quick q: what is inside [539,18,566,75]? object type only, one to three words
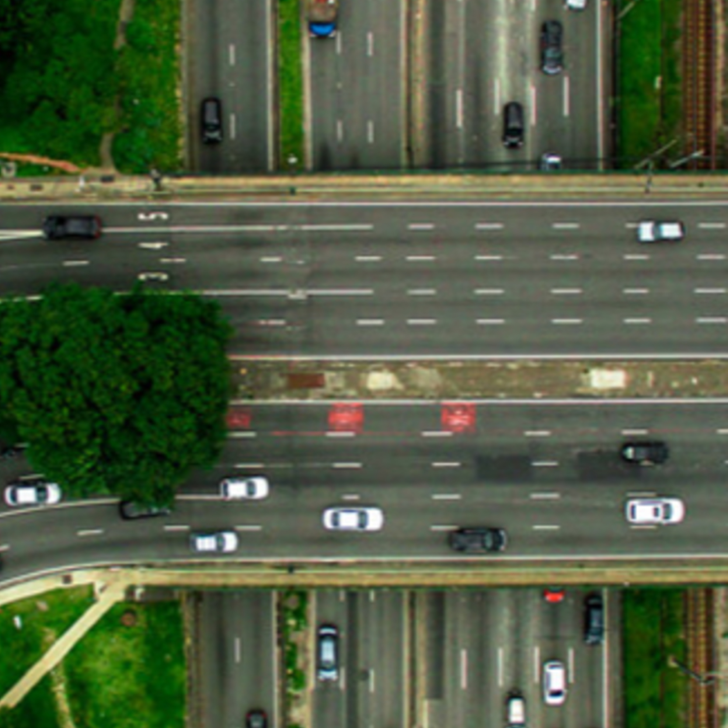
car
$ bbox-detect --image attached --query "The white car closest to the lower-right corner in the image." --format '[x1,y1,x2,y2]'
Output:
[542,659,567,705]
